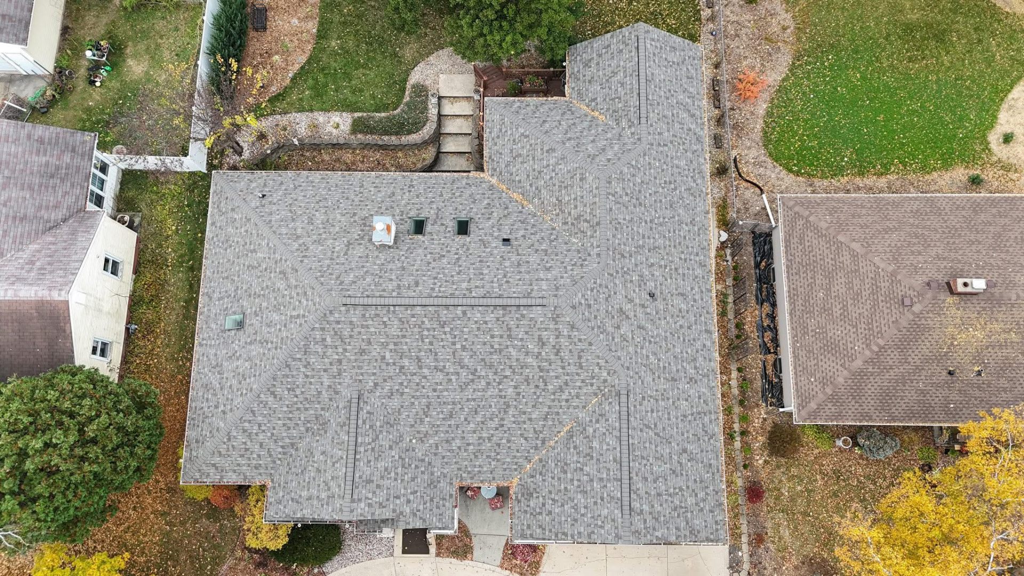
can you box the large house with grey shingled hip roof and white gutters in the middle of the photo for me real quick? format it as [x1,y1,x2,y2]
[178,22,729,547]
